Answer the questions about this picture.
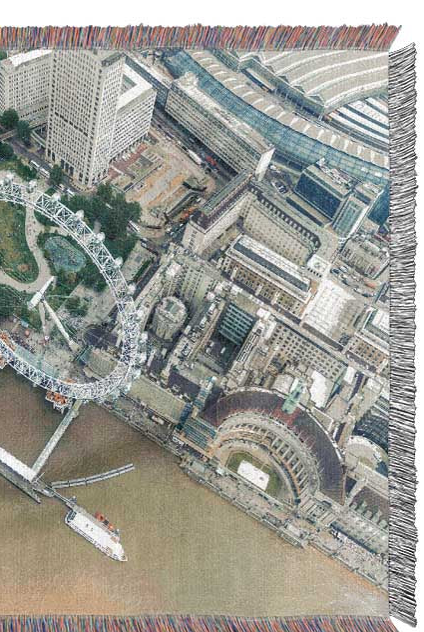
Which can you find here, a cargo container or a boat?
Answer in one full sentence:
The one in the frame is a boat.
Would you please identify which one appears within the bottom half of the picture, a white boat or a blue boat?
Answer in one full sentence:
What appears within the bottom half of the picture is a white boat.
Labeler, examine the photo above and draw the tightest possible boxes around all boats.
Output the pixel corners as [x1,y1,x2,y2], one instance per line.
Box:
[64,505,127,561]
[94,510,115,531]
